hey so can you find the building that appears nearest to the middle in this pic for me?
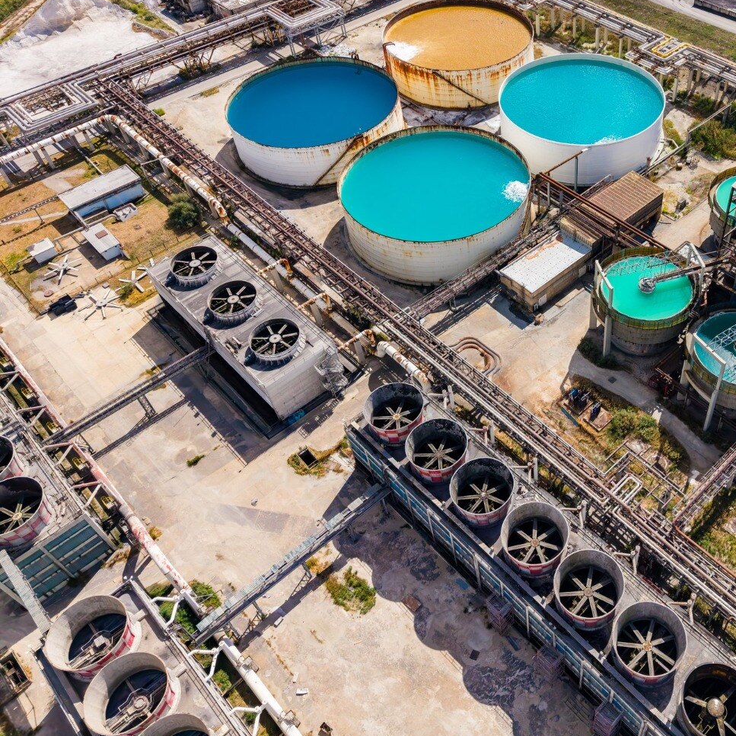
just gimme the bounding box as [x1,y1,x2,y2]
[497,230,594,313]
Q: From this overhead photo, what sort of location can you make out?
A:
industrial area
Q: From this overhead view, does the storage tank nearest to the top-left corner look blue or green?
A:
blue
